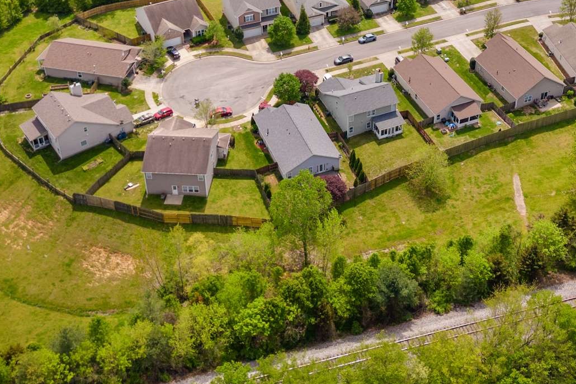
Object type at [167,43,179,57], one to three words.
vehicle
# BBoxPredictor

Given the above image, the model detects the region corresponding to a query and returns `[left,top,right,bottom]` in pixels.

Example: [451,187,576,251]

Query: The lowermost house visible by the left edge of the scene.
[26,79,135,162]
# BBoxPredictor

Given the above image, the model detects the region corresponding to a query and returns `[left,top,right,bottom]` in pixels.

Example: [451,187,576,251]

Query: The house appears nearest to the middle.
[249,93,340,182]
